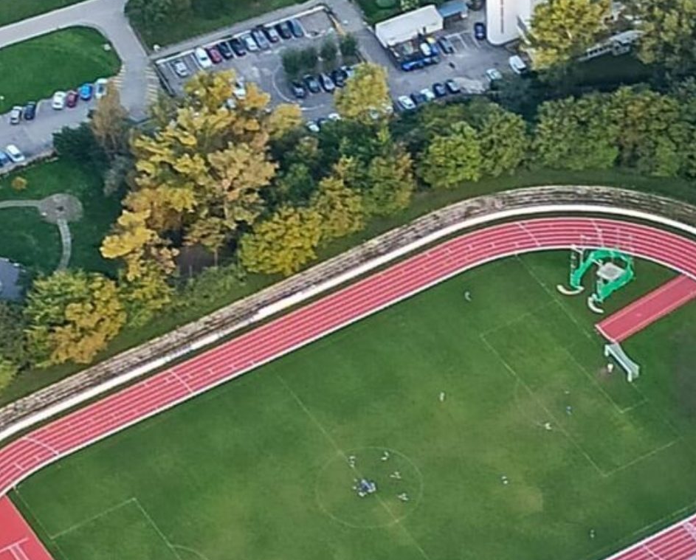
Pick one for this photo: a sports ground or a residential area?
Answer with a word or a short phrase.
sports ground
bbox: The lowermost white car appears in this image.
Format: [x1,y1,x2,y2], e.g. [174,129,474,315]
[5,144,25,162]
